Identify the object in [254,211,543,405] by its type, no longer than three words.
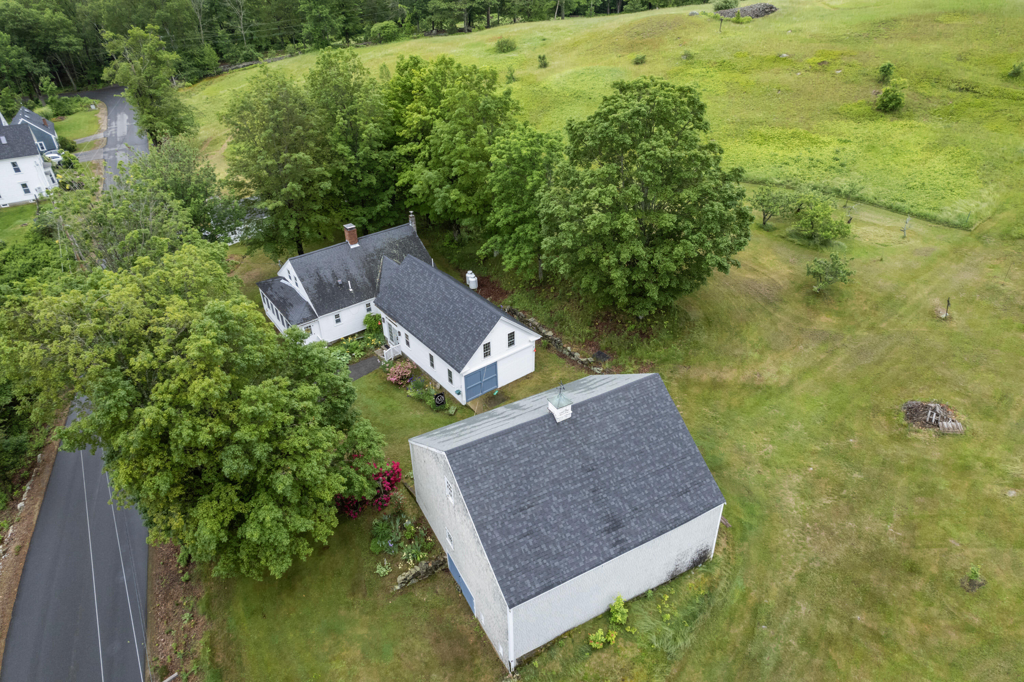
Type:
house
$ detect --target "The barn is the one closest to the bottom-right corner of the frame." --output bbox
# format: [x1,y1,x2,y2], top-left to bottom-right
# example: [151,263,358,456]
[407,373,726,670]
